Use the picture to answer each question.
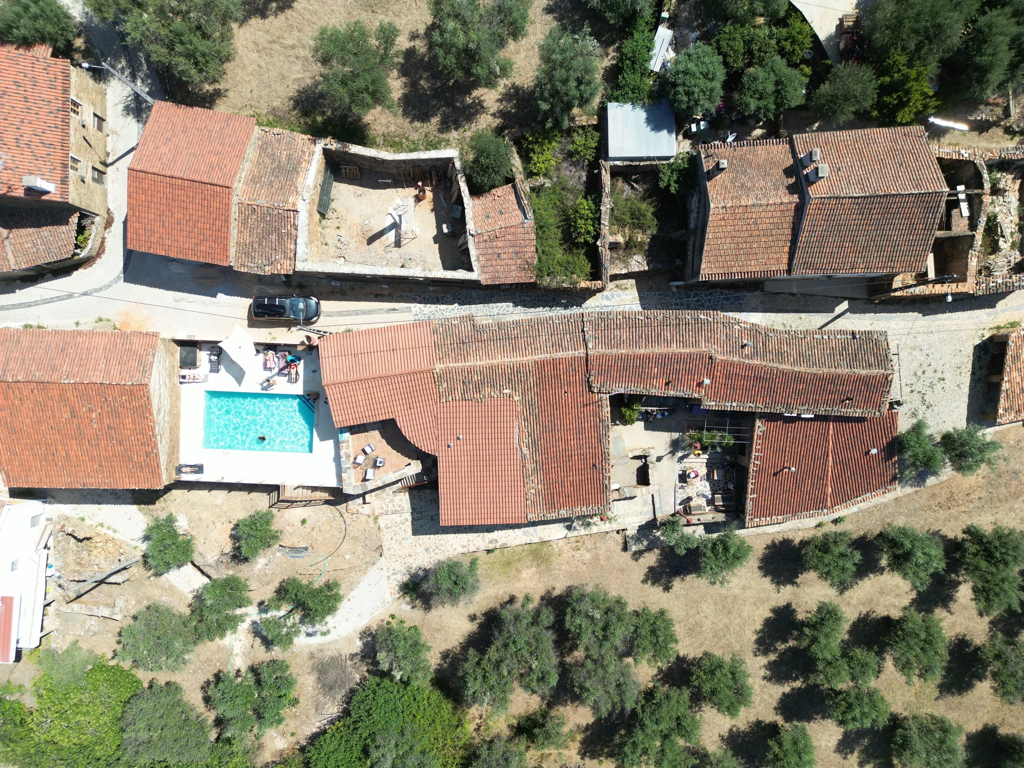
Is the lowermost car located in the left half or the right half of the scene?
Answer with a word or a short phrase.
left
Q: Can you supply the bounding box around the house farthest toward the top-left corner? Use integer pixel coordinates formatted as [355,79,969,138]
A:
[0,40,108,212]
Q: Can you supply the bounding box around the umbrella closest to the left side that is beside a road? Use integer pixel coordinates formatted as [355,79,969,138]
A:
[217,324,260,374]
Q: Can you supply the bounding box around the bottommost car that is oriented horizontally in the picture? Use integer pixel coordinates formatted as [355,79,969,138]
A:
[247,291,323,325]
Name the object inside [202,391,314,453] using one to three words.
swimming pool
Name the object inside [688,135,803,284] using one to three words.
house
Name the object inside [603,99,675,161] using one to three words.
shed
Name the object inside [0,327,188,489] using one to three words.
building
